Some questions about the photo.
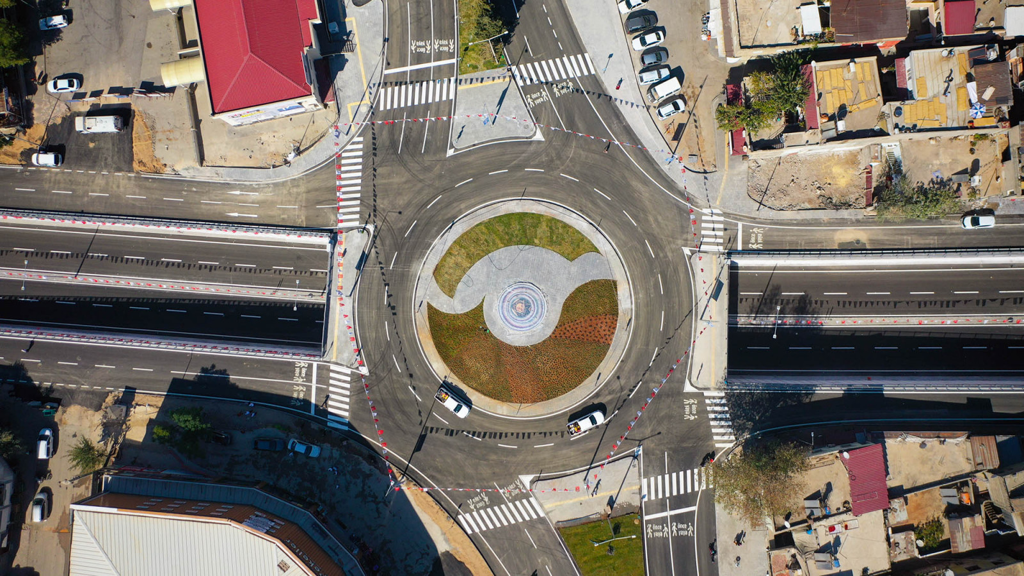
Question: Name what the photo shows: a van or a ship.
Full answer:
This aerial view contains a van.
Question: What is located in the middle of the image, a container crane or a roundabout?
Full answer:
You can see a roundabout in the middle of the image.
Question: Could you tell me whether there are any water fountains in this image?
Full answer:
Yes, there is a water fountain in the image.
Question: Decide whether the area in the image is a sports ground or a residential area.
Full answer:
This looks like a residential area.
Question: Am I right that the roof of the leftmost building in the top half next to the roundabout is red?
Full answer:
Yes, the roof of the leftmost building in the top half next to the roundabout is red.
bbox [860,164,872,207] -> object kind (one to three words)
shed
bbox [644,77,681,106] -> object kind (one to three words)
van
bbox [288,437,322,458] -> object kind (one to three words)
car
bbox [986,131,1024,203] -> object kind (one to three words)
house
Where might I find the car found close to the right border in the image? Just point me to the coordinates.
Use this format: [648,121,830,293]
[958,212,995,230]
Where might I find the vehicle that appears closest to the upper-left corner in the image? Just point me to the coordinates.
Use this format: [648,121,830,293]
[41,16,72,33]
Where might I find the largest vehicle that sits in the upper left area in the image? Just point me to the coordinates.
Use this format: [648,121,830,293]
[80,117,129,136]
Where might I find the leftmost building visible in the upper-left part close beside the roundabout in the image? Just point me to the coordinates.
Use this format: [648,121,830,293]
[189,0,330,126]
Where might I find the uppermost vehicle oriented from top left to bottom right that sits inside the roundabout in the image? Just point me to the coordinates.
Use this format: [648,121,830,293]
[435,387,473,416]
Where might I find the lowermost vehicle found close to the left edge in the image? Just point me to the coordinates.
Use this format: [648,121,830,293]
[33,489,52,520]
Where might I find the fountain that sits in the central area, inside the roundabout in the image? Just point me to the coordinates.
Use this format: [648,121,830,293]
[498,283,547,331]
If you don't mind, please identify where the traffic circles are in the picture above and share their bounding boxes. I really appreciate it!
[320,53,742,541]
